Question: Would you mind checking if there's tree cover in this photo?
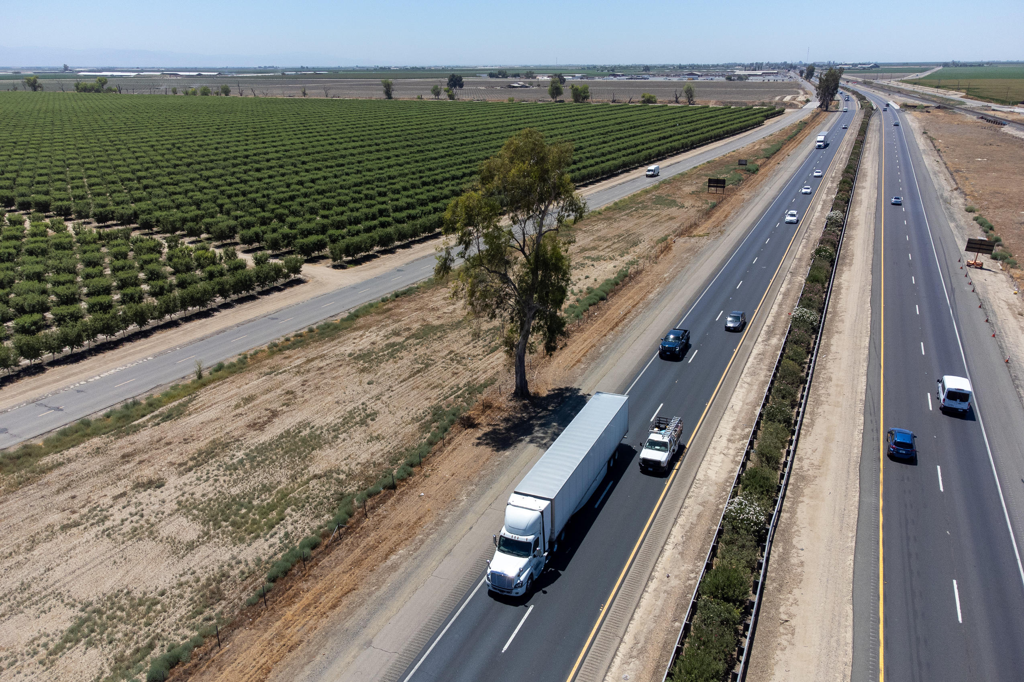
Yes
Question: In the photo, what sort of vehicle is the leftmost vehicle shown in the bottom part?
truck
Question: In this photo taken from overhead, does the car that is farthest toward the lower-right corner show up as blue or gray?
blue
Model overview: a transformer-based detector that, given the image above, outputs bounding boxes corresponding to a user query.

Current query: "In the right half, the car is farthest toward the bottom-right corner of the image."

[888,426,920,460]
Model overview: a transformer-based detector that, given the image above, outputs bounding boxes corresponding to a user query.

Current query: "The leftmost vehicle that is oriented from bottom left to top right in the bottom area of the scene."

[484,390,635,600]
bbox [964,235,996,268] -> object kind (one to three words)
trailer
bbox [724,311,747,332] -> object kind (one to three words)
car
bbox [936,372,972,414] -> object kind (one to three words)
van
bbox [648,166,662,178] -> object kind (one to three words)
vehicle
